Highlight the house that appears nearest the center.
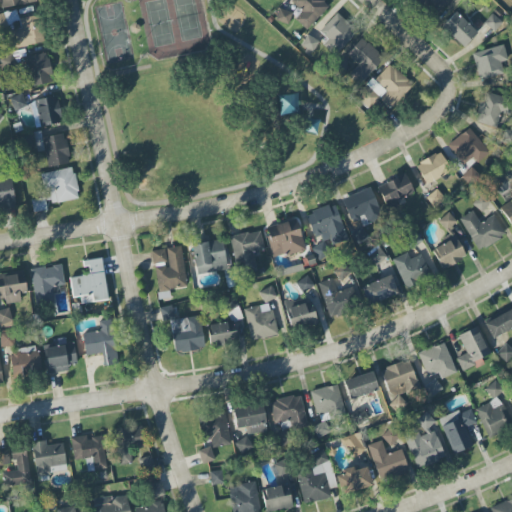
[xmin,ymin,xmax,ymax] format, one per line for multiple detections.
[229,228,265,264]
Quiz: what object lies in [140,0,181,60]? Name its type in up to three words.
tennis court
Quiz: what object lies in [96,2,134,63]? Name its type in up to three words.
basketball court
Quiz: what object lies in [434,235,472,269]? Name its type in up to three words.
house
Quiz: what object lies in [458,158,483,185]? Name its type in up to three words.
building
